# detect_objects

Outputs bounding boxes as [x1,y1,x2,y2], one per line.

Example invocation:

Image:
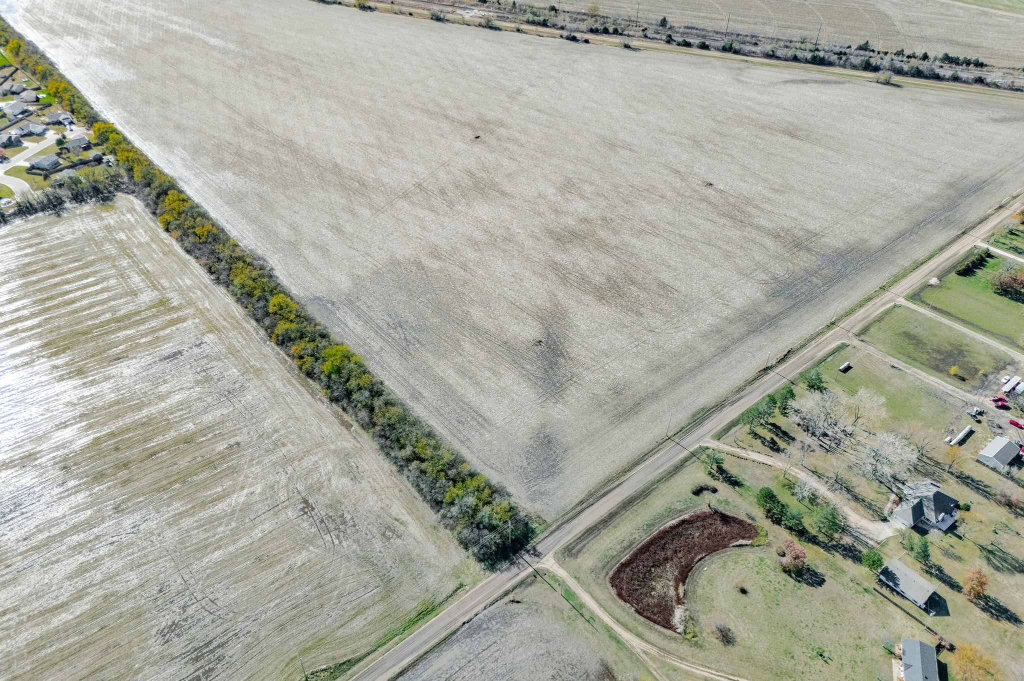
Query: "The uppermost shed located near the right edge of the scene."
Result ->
[976,437,1020,475]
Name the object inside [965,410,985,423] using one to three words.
vehicle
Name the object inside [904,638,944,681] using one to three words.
house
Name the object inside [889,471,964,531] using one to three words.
house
